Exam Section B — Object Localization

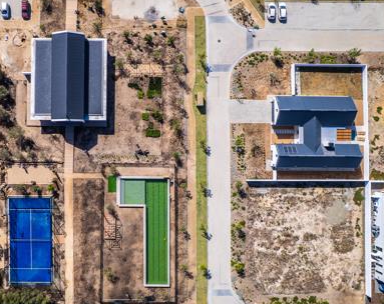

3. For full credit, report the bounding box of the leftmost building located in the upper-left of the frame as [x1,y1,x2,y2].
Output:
[28,29,107,127]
